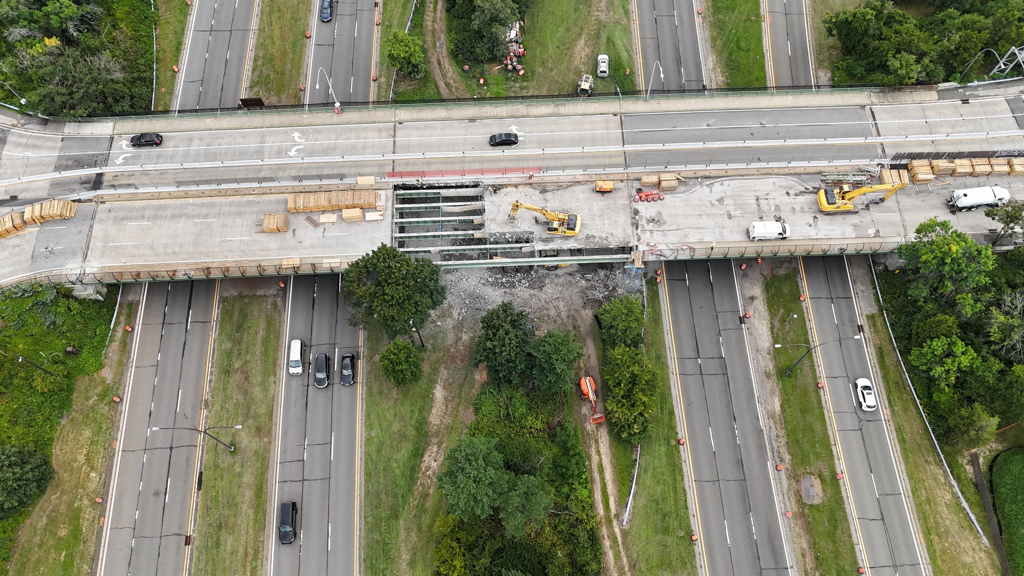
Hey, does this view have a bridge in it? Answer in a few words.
Yes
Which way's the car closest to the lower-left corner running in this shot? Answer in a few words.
vertically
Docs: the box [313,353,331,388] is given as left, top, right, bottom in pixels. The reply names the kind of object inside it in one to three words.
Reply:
car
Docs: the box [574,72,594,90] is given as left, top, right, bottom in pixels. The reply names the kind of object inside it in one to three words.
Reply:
work vehicle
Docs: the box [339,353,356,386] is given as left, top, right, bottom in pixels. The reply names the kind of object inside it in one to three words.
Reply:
car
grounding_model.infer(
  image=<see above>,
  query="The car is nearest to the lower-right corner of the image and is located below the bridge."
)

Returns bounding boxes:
[854,378,876,412]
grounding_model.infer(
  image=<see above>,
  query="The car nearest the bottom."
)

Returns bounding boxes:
[277,501,298,544]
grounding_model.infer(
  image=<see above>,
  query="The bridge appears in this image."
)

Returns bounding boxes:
[75,93,909,297]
